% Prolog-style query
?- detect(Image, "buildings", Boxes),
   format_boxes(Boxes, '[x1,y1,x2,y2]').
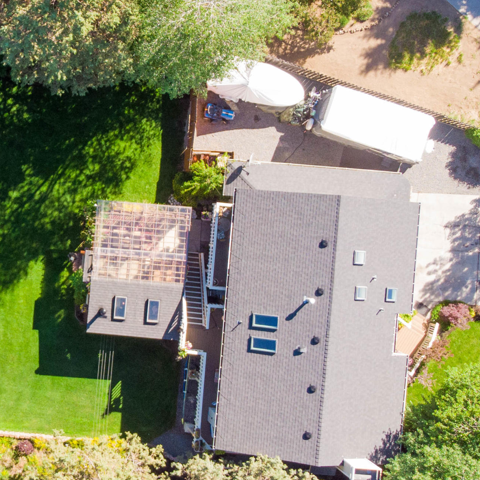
[80,200,193,340]
[210,156,422,475]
